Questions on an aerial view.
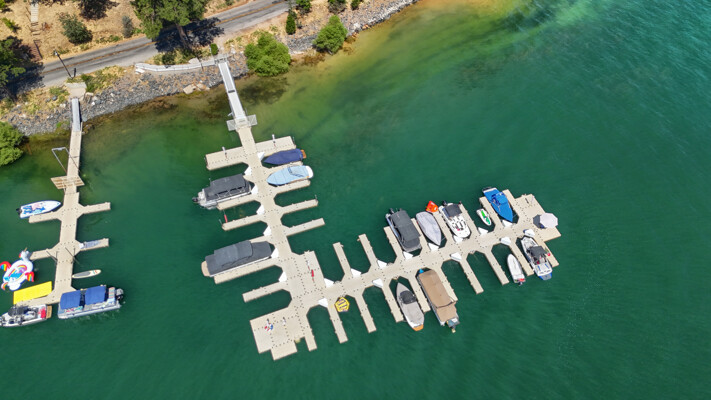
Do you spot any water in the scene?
Yes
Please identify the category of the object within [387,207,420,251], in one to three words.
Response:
boat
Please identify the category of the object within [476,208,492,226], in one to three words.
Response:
boat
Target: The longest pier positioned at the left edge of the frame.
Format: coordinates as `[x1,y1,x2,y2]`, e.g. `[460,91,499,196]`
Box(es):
[12,131,112,311]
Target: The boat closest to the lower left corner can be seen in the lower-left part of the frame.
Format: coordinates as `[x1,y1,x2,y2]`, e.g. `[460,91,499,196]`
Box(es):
[0,303,51,330]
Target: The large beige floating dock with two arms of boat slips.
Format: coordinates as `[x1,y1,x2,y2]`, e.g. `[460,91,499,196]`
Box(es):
[206,126,561,361]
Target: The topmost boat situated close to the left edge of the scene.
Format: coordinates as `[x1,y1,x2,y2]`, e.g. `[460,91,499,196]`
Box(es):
[15,202,60,217]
